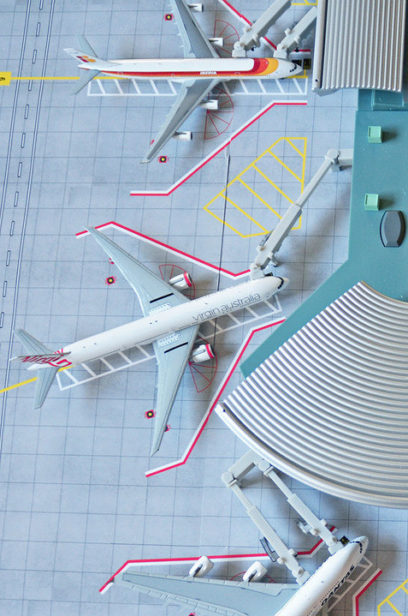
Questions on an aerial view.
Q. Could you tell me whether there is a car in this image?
No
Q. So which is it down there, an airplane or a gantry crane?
airplane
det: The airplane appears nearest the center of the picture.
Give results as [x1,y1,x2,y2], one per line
[9,225,290,454]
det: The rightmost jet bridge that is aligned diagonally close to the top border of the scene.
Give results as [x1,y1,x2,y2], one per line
[273,2,318,63]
